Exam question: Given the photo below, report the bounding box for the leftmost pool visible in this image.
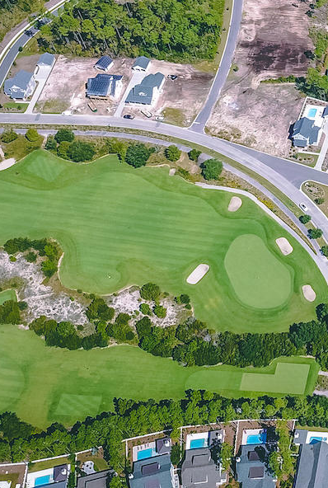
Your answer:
[27,467,67,488]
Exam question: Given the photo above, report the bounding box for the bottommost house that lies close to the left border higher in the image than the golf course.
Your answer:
[1,67,38,101]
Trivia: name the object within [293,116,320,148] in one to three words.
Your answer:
house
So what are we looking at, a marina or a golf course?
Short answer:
golf course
